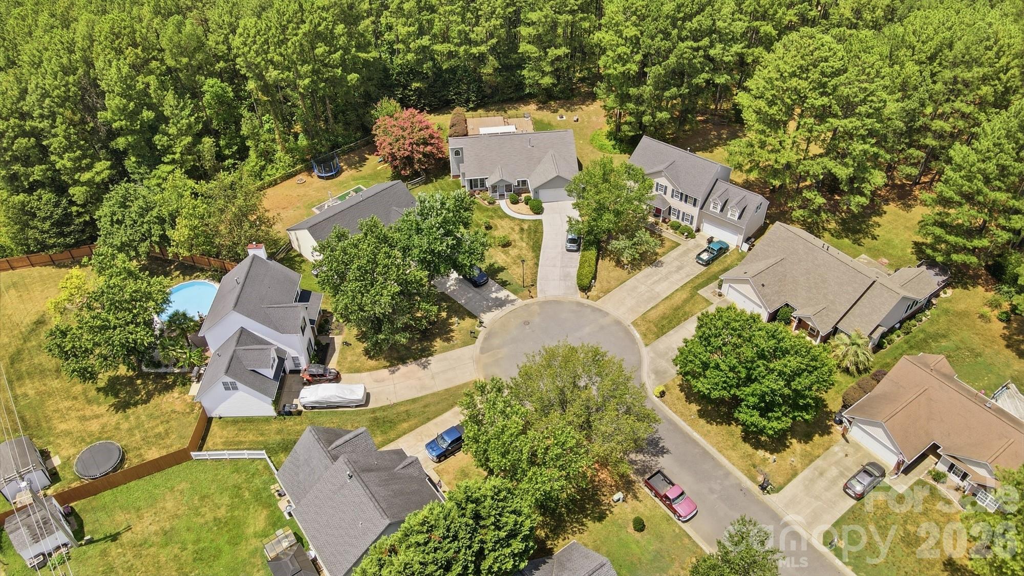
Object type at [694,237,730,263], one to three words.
truck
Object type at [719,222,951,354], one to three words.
house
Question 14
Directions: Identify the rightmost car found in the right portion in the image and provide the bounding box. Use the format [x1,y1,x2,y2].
[846,453,892,493]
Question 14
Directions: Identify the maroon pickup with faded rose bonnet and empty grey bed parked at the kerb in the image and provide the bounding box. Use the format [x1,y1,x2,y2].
[648,469,702,521]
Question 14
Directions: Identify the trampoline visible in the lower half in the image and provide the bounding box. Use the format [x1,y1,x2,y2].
[74,441,127,484]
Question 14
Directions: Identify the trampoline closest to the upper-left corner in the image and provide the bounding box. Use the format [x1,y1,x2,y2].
[308,150,341,181]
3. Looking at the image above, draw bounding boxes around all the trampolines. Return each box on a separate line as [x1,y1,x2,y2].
[308,150,341,181]
[74,441,127,484]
